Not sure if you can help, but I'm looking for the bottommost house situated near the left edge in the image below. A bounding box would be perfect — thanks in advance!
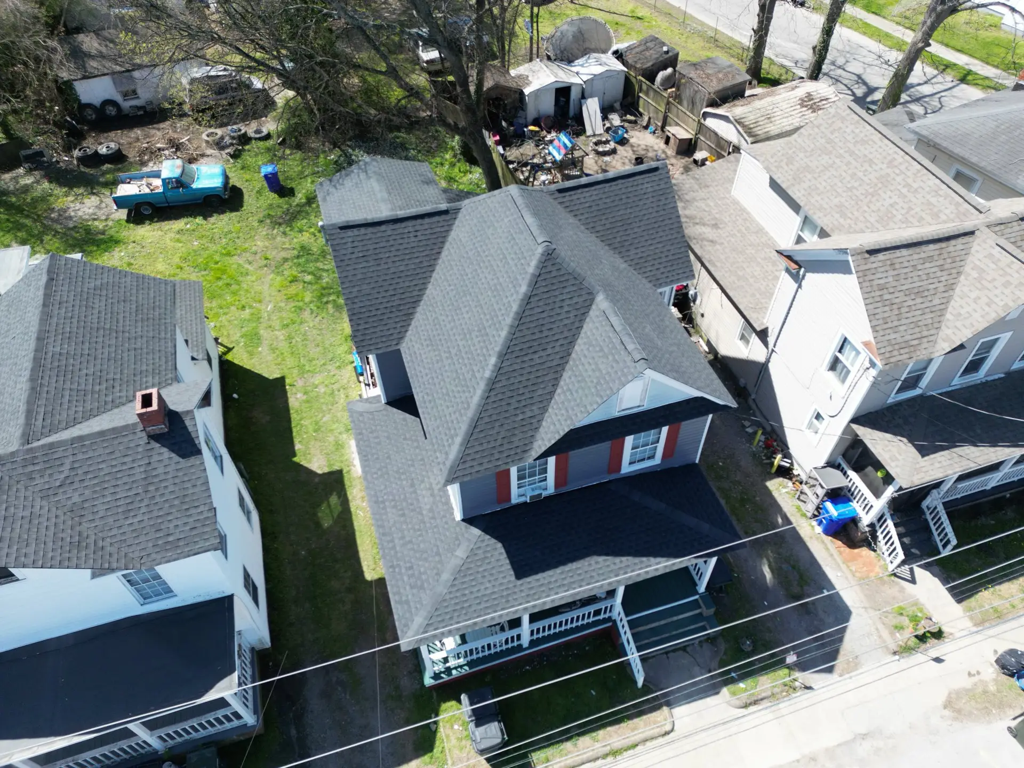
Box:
[0,246,272,768]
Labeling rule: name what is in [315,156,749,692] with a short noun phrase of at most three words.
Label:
house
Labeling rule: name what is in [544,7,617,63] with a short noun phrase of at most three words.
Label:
trampoline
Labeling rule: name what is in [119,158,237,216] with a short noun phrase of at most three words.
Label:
truck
